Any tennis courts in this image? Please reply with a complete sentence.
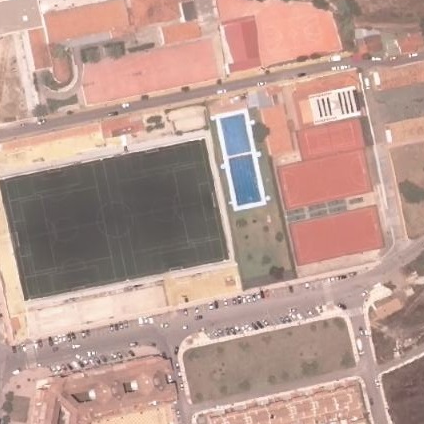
Yes, I can see a tennis court in this picture.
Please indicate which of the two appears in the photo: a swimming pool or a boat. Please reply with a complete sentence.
Of the two, only a swimming pool appears.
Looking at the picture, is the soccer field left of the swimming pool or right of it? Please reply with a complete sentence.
Looking at the photo, the soccer field lies to the left of the swimming pool.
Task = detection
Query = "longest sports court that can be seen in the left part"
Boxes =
[83,37,219,104]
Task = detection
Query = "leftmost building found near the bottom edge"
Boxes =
[27,354,180,424]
